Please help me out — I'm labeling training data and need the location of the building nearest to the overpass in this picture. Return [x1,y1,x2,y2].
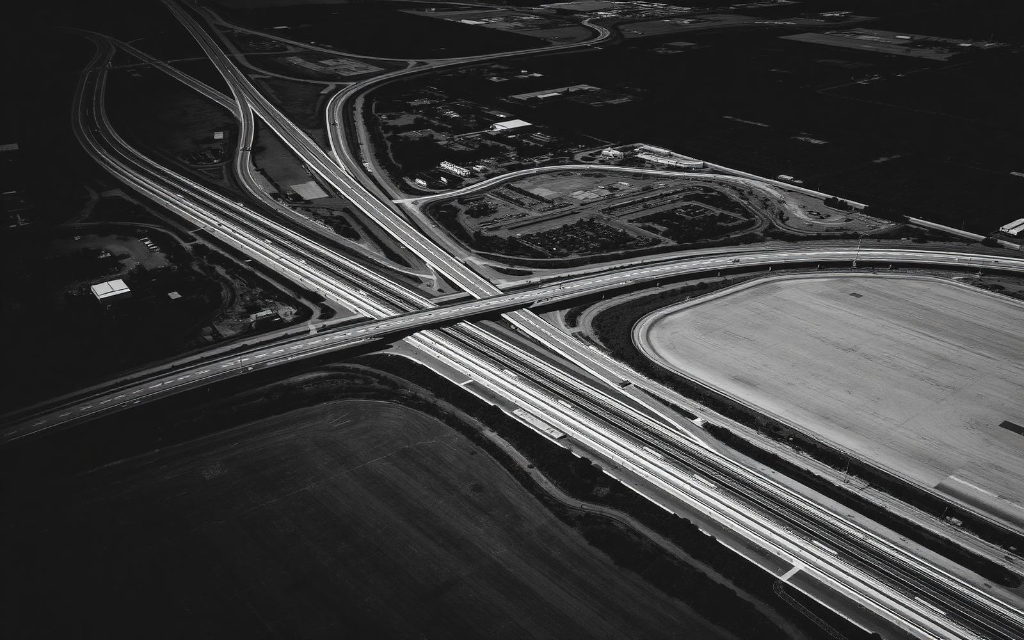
[903,216,1020,252]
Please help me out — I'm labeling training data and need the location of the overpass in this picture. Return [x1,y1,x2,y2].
[0,247,1024,460]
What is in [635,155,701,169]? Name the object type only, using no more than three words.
building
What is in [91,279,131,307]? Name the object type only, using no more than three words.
barn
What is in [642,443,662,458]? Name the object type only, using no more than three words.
vehicle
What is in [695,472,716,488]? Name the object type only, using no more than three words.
vehicle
